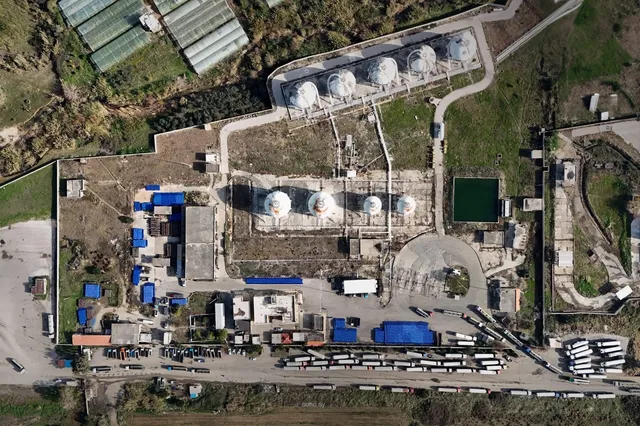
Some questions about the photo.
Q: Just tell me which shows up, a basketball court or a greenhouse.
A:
greenhouse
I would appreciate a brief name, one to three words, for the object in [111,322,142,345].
building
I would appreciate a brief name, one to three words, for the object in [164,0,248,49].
greenhouse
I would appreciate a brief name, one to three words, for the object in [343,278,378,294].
shed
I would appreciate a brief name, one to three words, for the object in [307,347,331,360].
vehicle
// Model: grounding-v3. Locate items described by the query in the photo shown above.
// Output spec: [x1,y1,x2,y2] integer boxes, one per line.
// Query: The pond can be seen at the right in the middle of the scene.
[453,177,500,222]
